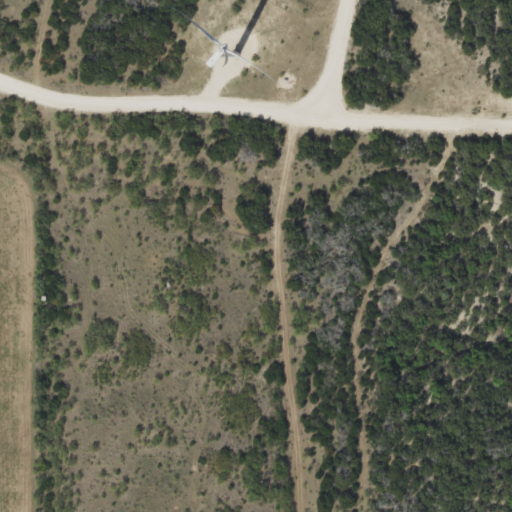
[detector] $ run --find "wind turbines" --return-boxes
[173,0,278,77]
